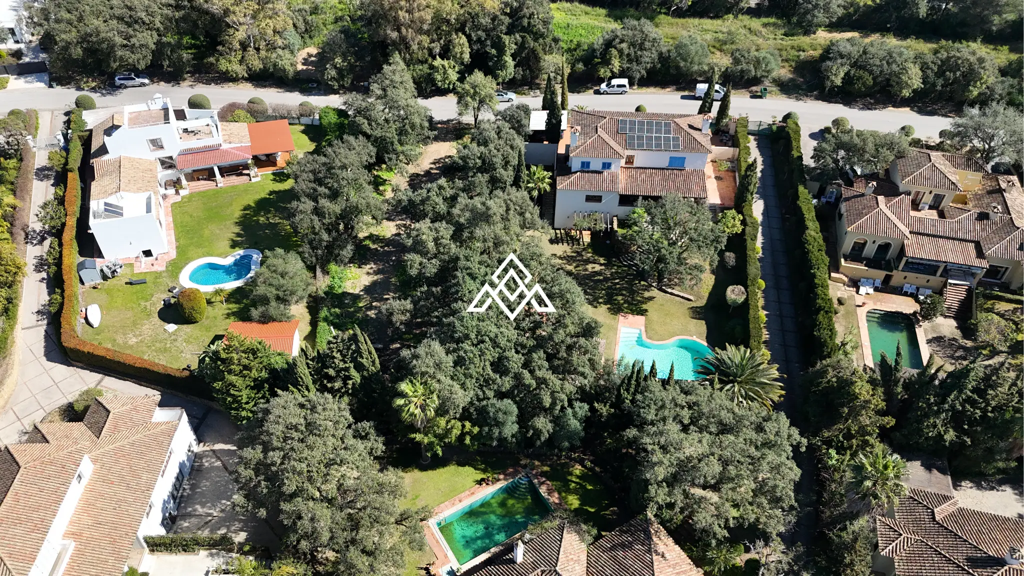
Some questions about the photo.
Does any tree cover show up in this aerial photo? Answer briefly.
Yes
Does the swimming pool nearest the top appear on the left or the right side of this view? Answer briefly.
left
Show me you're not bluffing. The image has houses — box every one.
[865,486,1024,576]
[471,509,705,576]
[0,394,201,576]
[0,0,43,50]
[832,147,1024,319]
[87,87,258,258]
[554,108,718,232]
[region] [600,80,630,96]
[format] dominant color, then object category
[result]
white vehicle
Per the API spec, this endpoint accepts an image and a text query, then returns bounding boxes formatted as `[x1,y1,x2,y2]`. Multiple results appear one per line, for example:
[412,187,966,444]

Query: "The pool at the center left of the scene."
[179,247,264,291]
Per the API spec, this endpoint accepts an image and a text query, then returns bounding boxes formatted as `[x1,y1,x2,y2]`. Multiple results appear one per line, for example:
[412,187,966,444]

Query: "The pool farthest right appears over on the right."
[861,304,928,375]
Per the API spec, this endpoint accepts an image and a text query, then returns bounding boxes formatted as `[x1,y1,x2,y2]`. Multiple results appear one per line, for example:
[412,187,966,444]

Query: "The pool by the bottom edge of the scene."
[432,470,558,567]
